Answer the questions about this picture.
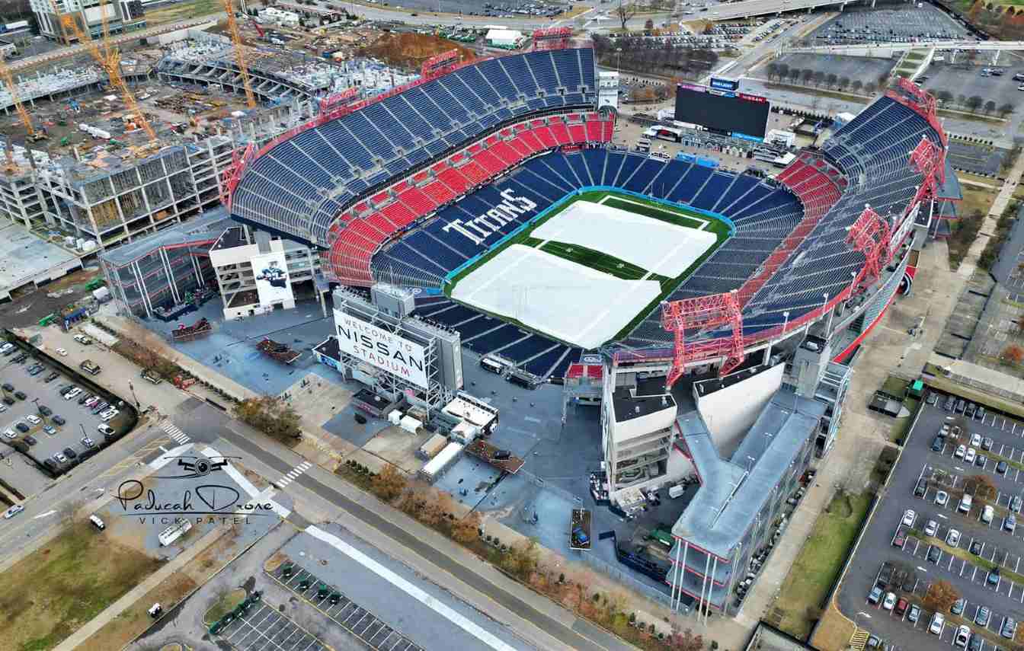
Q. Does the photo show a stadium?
Yes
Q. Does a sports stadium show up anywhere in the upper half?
Yes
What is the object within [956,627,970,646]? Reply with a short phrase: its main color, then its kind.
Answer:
white car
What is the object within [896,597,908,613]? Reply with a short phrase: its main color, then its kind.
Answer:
red vehicle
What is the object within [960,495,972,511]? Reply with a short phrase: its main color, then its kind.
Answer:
white vehicle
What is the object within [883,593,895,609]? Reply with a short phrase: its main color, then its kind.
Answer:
white vehicle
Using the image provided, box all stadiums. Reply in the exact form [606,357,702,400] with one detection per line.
[220,39,949,414]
